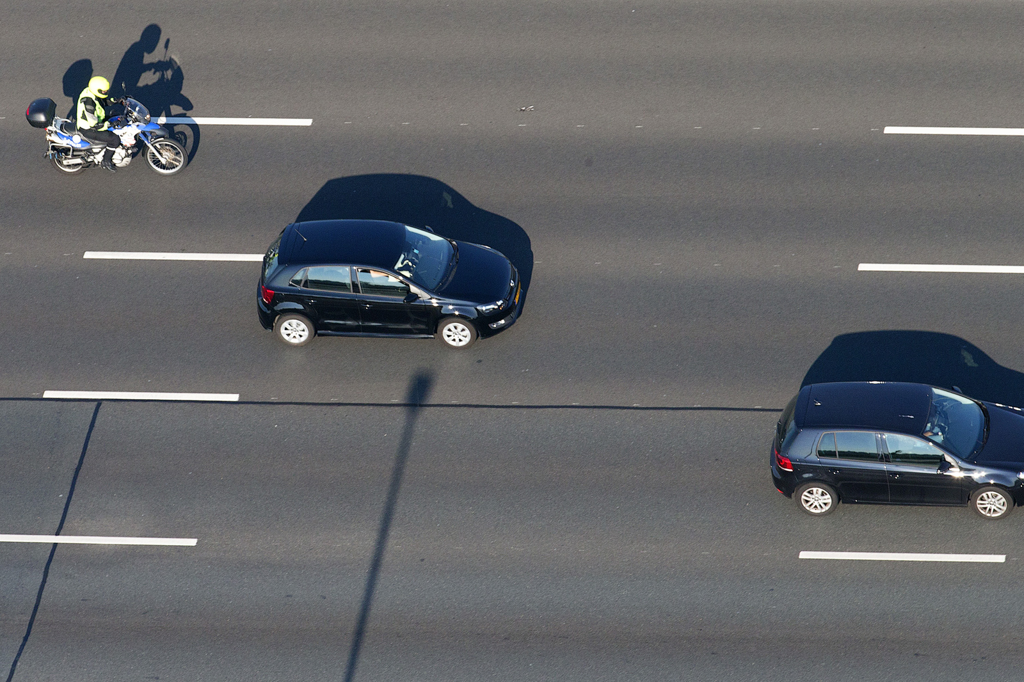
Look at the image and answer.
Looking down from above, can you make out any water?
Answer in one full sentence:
No, there is no water in the image.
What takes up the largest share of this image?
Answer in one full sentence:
For the most part, this view shows paved ground.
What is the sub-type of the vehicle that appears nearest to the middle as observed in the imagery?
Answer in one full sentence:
The vehicle that appears nearest to the middle appears to be an automobile.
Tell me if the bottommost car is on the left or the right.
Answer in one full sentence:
It is on the right.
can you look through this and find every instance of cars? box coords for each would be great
[771,379,1024,519]
[255,218,524,350]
